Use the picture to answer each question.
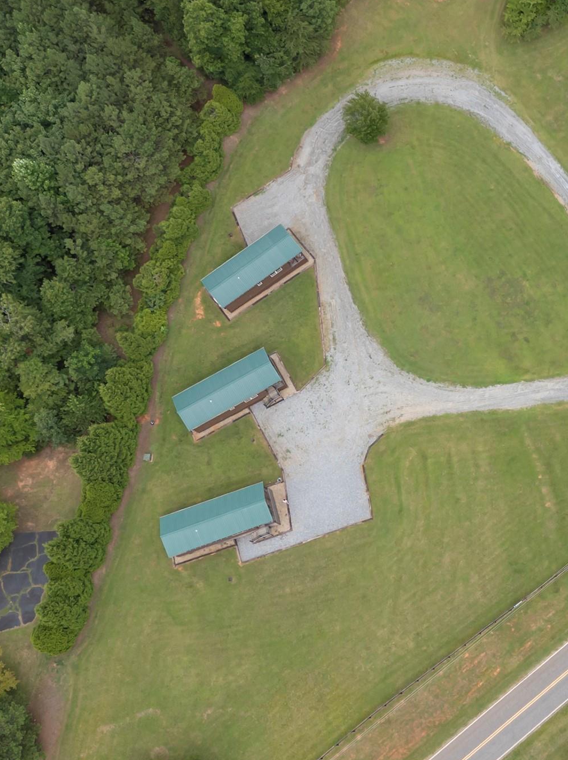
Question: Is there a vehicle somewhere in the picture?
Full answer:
No, I find no vehicle anywhere in the image.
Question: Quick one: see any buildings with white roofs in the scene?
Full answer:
No, there is no building with a white roof in the image.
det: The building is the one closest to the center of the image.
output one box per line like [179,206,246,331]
[175,348,286,432]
